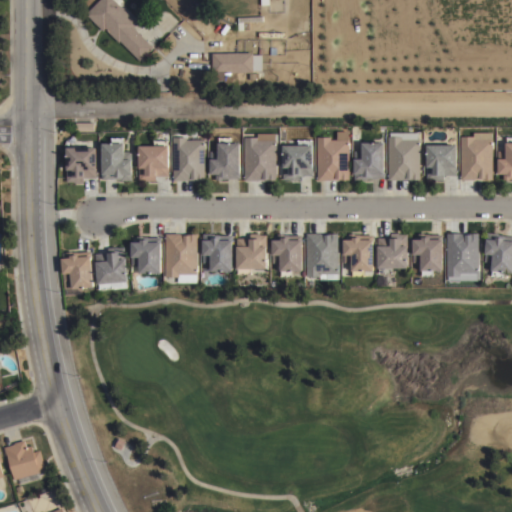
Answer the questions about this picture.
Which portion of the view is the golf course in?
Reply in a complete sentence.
Look in the bottom portion of the view to spot the golf course.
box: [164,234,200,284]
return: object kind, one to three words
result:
house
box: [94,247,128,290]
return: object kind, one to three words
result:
house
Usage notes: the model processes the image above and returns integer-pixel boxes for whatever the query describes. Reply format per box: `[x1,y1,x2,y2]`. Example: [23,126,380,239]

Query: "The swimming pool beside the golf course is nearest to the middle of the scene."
[202,272,228,288]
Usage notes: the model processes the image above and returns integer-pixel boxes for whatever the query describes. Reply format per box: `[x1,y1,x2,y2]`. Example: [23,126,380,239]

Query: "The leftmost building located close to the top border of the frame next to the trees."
[86,0,152,60]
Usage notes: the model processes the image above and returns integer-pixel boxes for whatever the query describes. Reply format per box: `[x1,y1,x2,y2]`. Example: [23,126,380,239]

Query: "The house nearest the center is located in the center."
[236,234,268,274]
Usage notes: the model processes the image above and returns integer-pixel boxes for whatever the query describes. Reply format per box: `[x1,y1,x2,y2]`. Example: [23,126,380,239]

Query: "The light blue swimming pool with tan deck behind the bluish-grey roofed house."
[133,274,160,292]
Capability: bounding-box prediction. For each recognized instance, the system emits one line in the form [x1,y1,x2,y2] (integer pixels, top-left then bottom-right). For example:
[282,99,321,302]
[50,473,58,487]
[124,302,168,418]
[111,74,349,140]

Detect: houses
[390,132,422,181]
[446,233,480,282]
[64,146,97,183]
[412,236,444,277]
[426,144,458,182]
[94,247,128,290]
[212,54,261,73]
[26,494,60,512]
[86,0,152,60]
[100,138,132,181]
[377,233,409,270]
[462,132,494,182]
[4,444,44,480]
[164,234,200,284]
[130,237,162,274]
[271,236,304,278]
[60,252,92,290]
[307,234,340,281]
[236,234,268,274]
[486,236,512,277]
[210,138,241,181]
[244,134,278,182]
[354,142,385,181]
[202,234,234,272]
[281,140,313,182]
[137,140,169,182]
[343,236,374,276]
[317,132,351,182]
[498,137,512,181]
[173,136,206,182]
